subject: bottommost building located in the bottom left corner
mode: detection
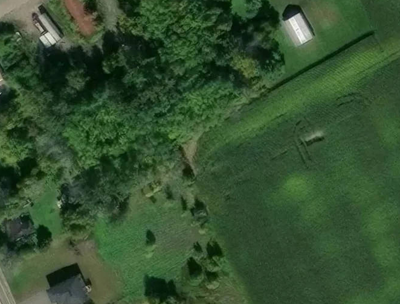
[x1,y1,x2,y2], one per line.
[46,272,91,304]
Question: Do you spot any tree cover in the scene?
Yes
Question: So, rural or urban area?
rural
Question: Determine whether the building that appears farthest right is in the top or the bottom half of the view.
top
